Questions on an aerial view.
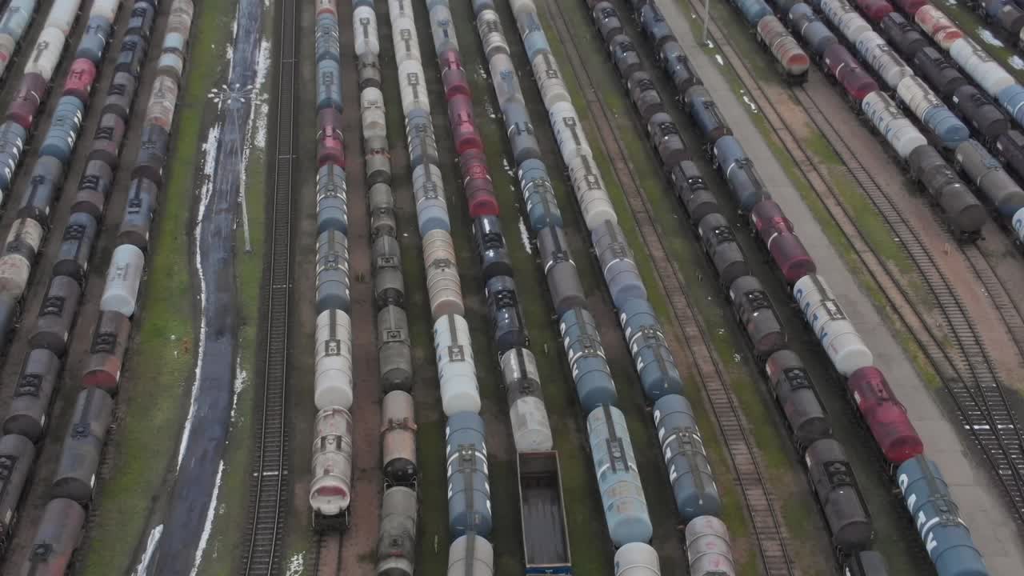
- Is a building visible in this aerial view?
No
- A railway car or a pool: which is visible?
railway car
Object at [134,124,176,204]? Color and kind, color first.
gray rail car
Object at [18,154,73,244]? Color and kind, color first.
gray rail car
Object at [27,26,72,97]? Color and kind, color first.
white rail car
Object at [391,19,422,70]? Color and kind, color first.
white rail car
